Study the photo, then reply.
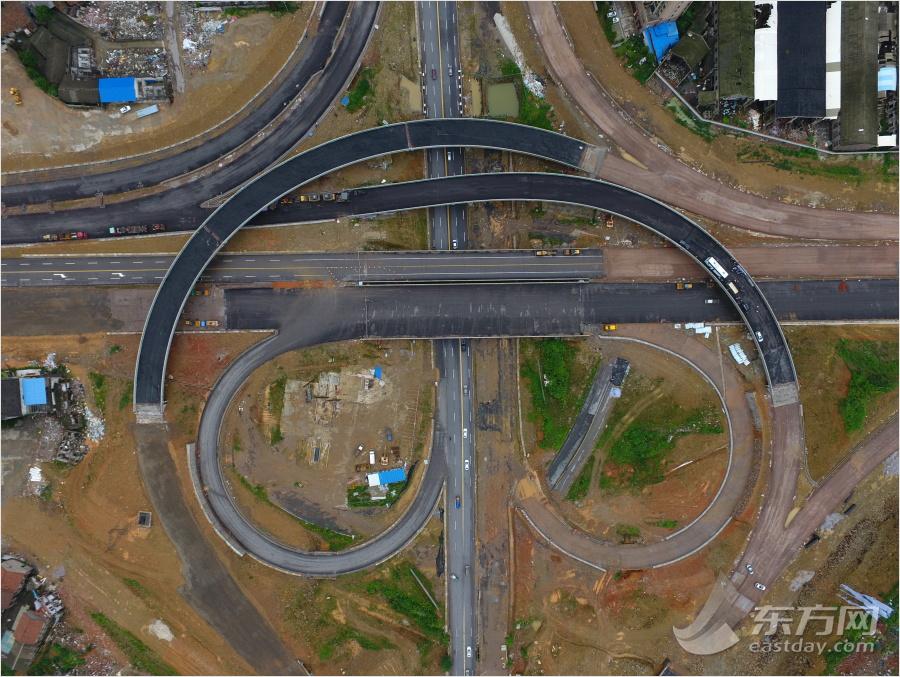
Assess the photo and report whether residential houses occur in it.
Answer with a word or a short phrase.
Yes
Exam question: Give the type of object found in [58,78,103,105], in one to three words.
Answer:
house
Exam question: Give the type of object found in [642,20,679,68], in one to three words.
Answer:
house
